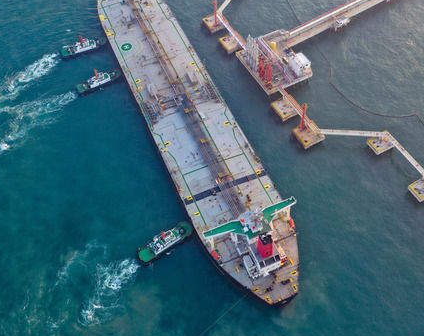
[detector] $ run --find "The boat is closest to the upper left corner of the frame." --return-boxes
[58,36,107,62]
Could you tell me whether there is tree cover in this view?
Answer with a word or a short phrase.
No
